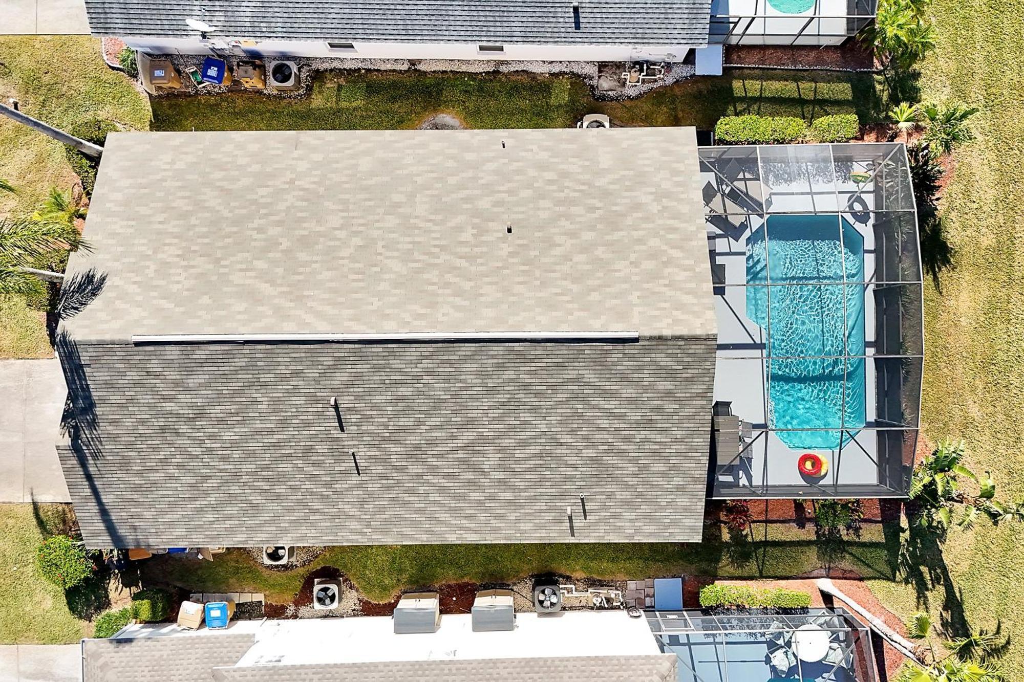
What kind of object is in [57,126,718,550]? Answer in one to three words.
house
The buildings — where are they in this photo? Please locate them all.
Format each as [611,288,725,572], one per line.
[57,126,718,550]
[84,0,714,62]
[70,612,679,682]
